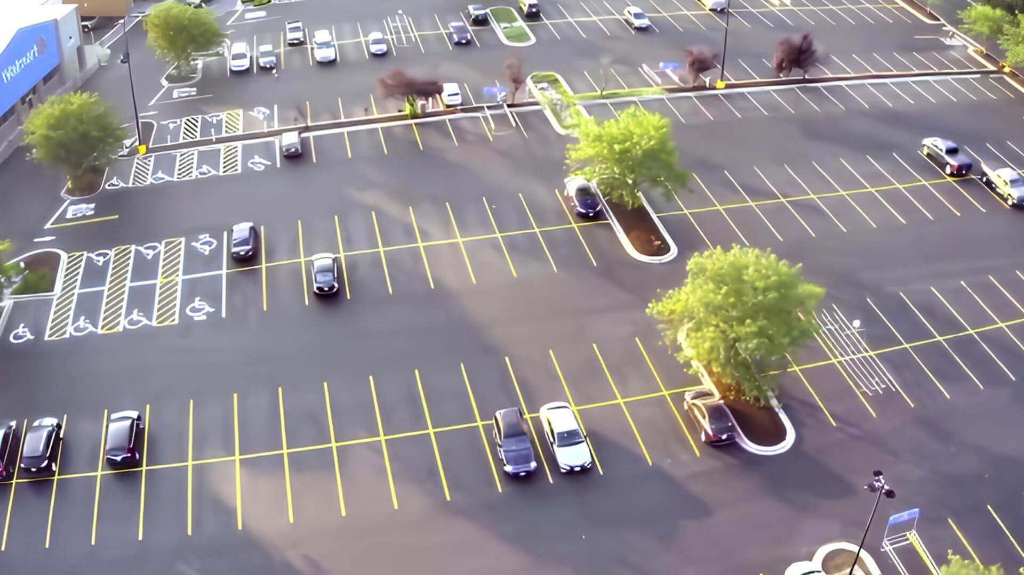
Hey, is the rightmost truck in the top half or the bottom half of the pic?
top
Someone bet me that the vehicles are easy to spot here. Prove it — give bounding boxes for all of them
[563,177,599,215]
[311,29,336,62]
[255,43,276,68]
[310,250,339,293]
[700,0,724,10]
[366,32,386,55]
[542,406,592,473]
[227,37,251,71]
[973,162,1024,206]
[20,413,62,472]
[623,6,650,29]
[79,23,94,39]
[770,0,789,5]
[104,408,141,466]
[447,20,470,44]
[684,389,734,444]
[920,136,972,176]
[0,424,15,480]
[277,125,302,156]
[284,18,305,45]
[489,406,535,475]
[438,74,462,106]
[227,221,256,260]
